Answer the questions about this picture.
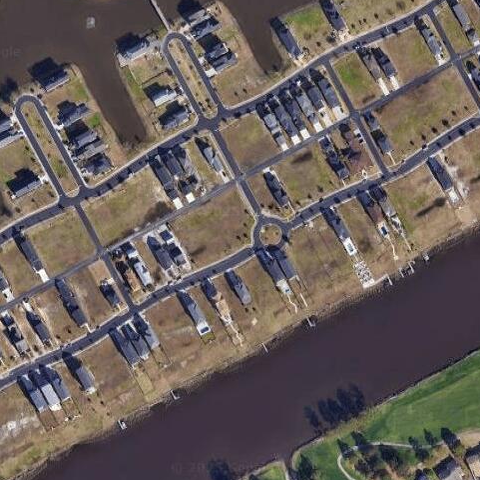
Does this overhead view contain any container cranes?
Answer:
No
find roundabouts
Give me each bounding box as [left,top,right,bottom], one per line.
[250,214,291,255]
